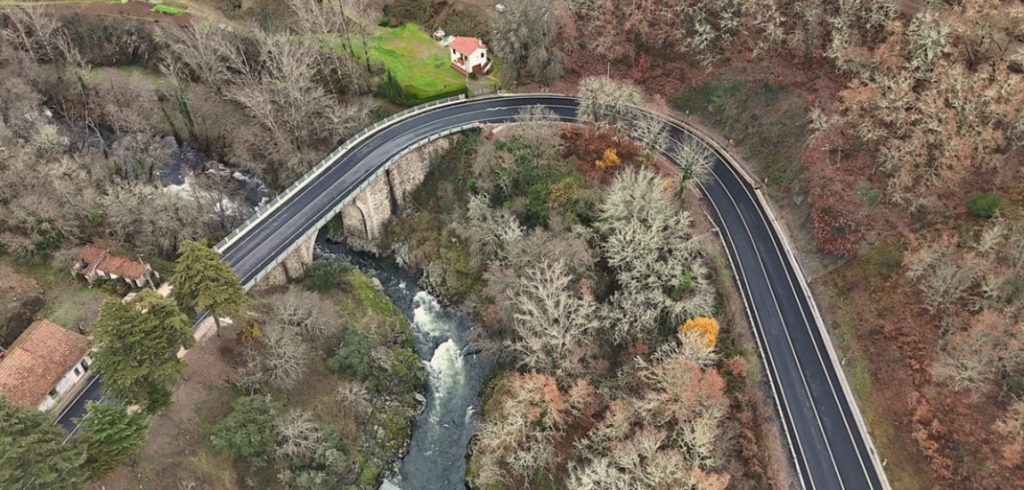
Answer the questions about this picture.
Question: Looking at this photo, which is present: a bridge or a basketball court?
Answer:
bridge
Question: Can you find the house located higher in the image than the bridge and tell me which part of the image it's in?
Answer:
top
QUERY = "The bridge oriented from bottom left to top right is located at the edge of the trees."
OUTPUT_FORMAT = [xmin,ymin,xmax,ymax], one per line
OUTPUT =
[152,89,466,312]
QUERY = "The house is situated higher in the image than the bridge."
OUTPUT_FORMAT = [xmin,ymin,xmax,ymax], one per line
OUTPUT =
[444,36,493,77]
